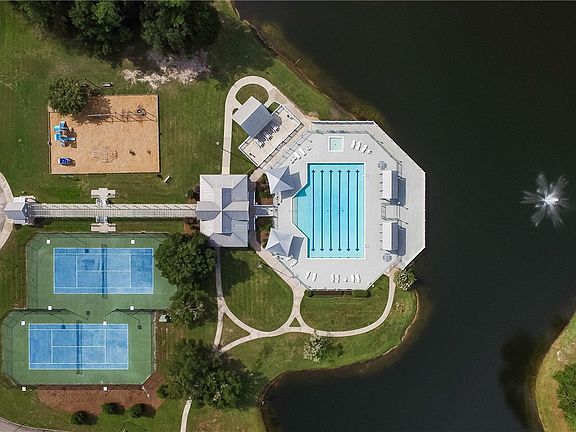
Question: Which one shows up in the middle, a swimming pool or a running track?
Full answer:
What appears in the middle is a swimming pool.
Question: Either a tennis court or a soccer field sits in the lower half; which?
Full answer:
Visible in the lower half is a tennis court.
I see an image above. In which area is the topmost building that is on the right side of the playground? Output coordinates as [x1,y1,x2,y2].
[233,96,273,137]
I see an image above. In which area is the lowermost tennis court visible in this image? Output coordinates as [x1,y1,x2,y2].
[2,309,154,384]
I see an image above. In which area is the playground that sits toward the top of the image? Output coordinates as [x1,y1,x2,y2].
[49,94,159,174]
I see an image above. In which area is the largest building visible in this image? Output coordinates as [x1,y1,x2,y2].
[195,175,250,248]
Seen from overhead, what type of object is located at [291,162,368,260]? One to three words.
swimming pool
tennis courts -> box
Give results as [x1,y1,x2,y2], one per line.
[26,233,178,309]
[2,309,154,384]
